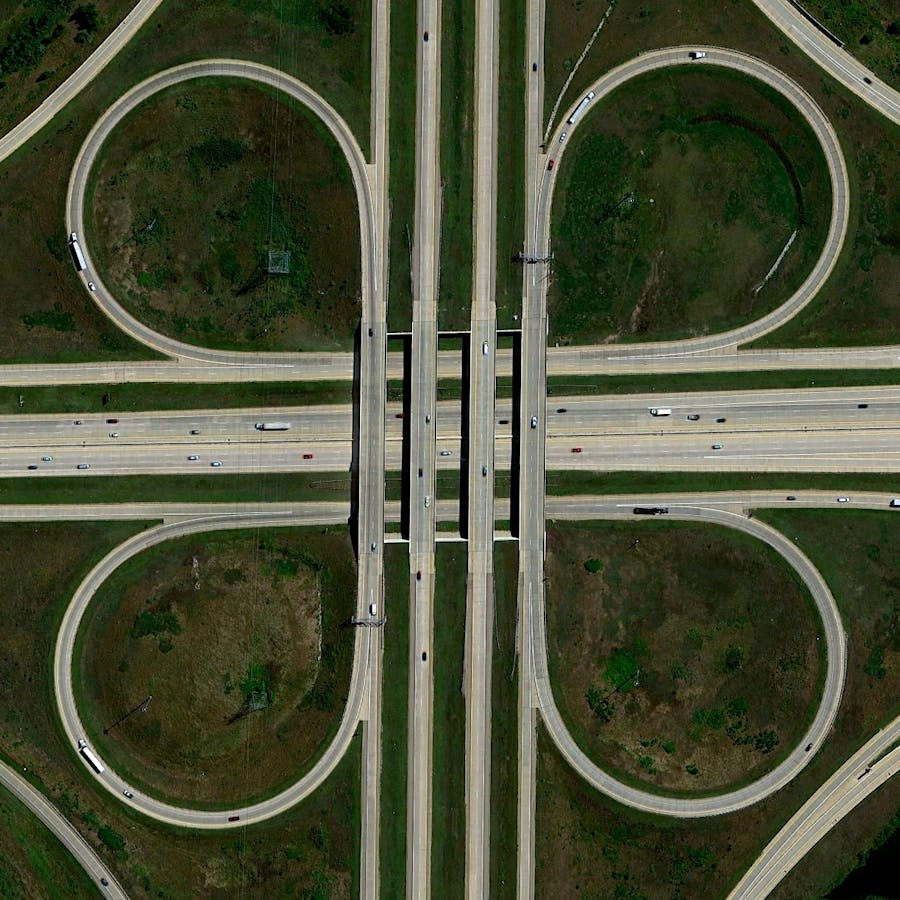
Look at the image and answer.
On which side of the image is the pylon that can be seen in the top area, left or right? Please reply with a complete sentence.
It is on the left.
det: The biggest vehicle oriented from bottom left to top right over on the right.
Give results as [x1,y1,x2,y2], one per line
[567,91,594,124]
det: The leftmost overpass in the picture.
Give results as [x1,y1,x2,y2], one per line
[358,323,387,554]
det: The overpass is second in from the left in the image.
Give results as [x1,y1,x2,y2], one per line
[409,322,438,553]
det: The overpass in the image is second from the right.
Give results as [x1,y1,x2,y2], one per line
[468,320,497,552]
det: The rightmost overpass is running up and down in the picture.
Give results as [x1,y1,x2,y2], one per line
[519,318,547,551]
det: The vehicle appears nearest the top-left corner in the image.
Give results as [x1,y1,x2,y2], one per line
[71,233,86,272]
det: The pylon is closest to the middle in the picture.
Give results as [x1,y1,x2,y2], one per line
[257,250,294,272]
